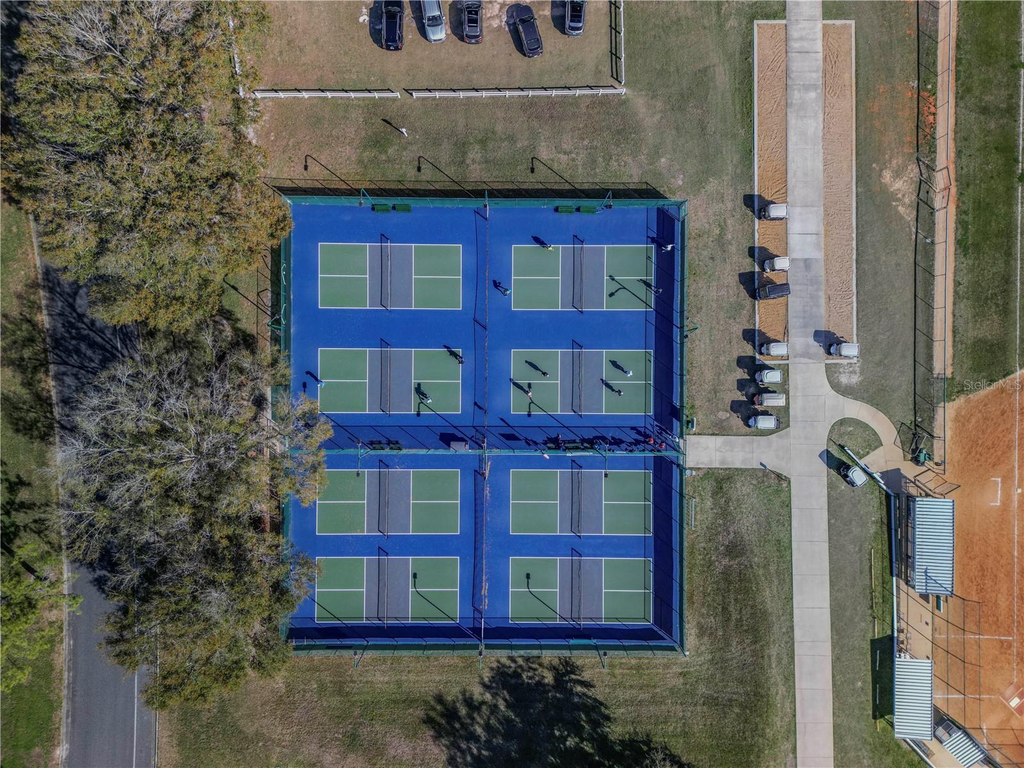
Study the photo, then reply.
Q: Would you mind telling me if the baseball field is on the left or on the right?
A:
right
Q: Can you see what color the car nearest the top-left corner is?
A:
black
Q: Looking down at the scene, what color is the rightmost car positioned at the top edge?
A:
black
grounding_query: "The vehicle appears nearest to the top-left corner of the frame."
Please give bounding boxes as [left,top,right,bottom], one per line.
[380,0,405,52]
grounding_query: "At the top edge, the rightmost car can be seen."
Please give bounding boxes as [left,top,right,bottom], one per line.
[563,0,588,38]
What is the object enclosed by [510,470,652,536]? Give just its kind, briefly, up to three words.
sports court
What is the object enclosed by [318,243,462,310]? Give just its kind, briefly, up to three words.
sports court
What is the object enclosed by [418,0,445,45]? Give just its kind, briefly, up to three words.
car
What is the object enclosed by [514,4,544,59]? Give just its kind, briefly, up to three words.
car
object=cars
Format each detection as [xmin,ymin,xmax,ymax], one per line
[461,0,486,45]
[380,0,405,52]
[418,0,445,45]
[563,0,588,38]
[514,4,544,59]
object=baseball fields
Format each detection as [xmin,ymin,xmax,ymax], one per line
[933,0,1024,768]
